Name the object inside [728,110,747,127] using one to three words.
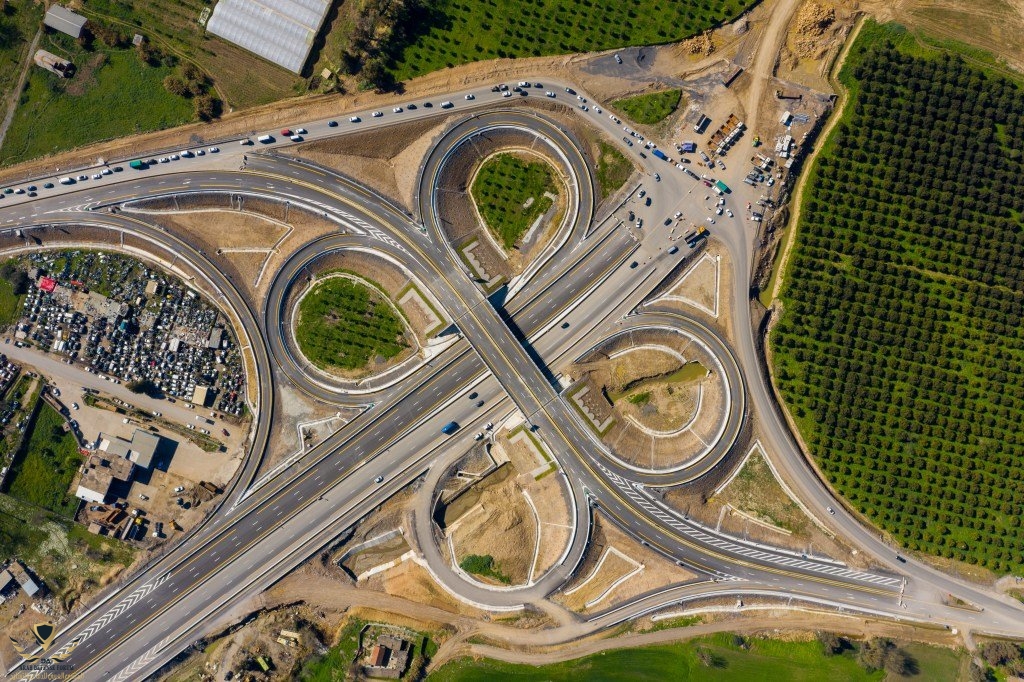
vehicle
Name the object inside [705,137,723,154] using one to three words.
vehicle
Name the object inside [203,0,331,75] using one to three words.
greenhouse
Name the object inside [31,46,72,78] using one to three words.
barn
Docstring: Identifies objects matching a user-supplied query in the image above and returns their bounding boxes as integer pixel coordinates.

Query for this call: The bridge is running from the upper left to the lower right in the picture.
[456,298,558,415]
